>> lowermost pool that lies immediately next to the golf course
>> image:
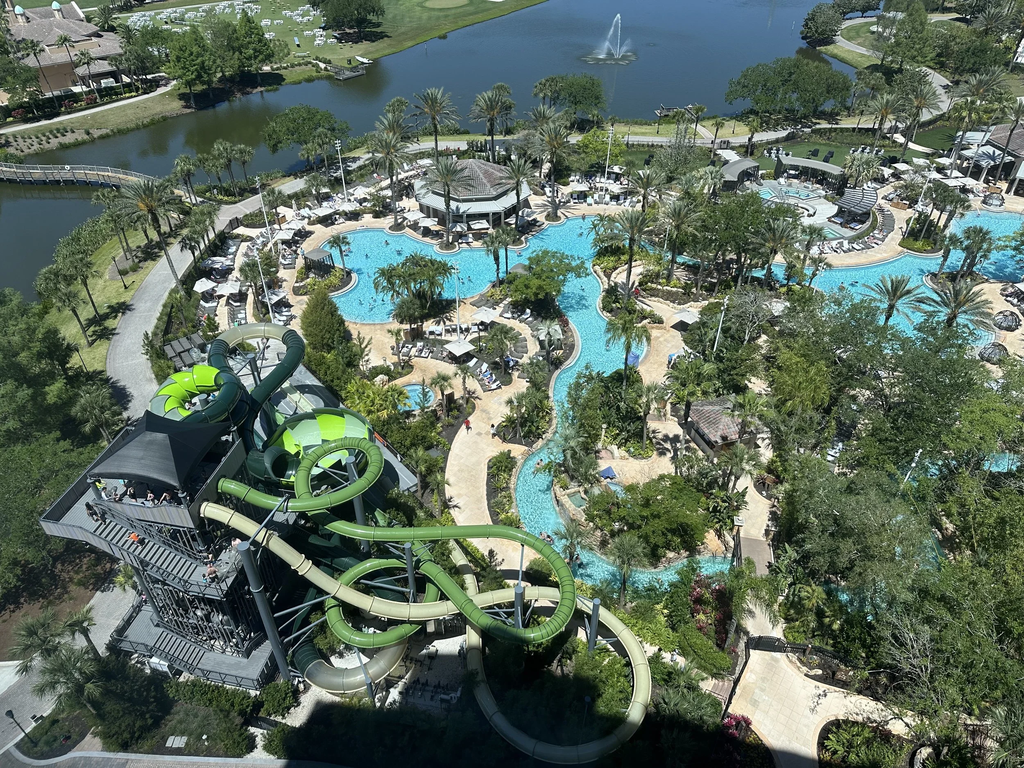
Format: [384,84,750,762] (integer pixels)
[322,213,1024,612]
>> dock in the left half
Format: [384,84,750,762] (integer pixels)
[326,59,368,86]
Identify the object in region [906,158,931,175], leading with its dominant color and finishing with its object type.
white umbrella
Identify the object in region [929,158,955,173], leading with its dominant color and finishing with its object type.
white umbrella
